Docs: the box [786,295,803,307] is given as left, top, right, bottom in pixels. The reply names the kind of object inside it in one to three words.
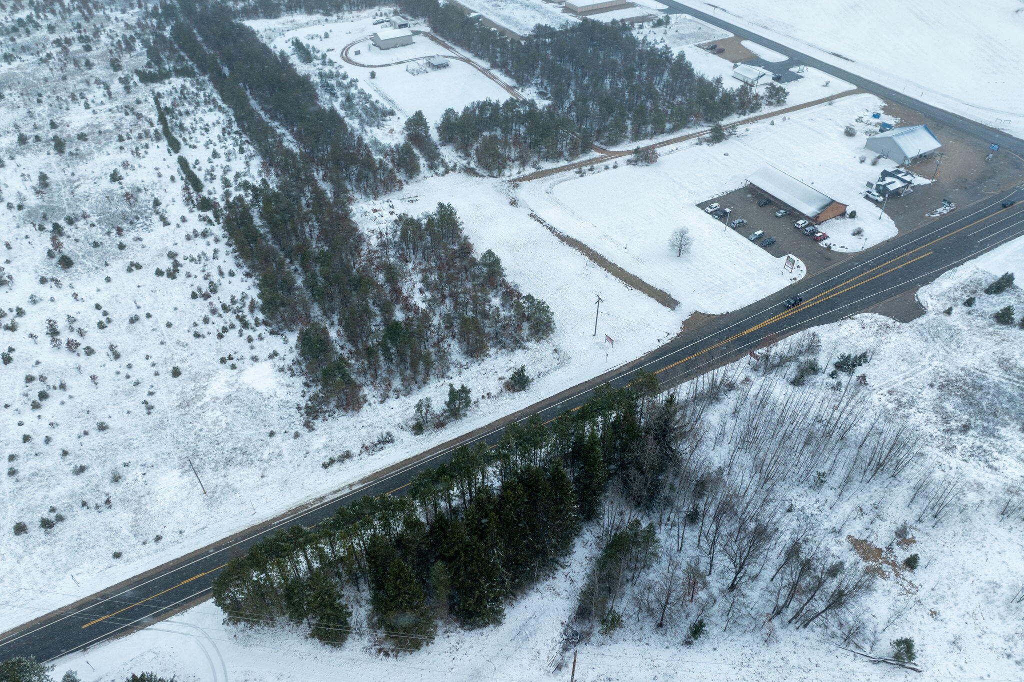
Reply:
vehicle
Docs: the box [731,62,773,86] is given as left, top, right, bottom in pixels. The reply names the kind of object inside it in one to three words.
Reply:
house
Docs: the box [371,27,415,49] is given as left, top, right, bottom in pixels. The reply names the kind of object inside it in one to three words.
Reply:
building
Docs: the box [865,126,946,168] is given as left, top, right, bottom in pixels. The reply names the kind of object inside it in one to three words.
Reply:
building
